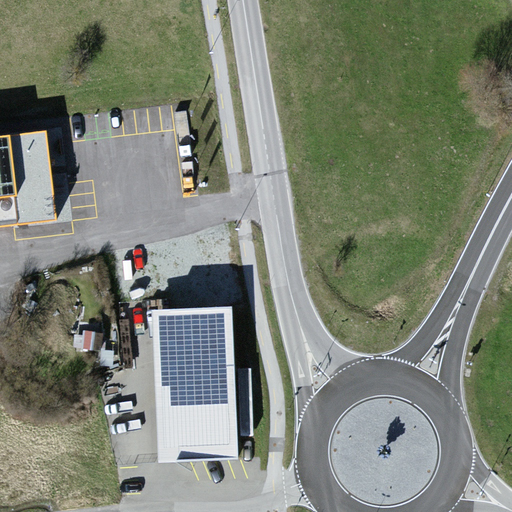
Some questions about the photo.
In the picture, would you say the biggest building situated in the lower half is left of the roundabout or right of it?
on the left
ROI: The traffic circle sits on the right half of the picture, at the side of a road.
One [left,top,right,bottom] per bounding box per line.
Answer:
[295,356,475,512]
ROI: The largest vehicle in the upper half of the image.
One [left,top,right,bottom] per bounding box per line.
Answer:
[174,110,193,158]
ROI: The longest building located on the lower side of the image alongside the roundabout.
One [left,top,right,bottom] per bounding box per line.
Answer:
[152,306,238,464]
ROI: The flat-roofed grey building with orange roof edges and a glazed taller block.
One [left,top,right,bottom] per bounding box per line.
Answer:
[0,130,56,226]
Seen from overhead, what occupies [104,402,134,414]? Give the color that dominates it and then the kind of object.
white vehicle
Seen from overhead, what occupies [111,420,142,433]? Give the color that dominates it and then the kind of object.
white vehicle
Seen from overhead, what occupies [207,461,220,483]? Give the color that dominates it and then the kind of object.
gray vehicle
